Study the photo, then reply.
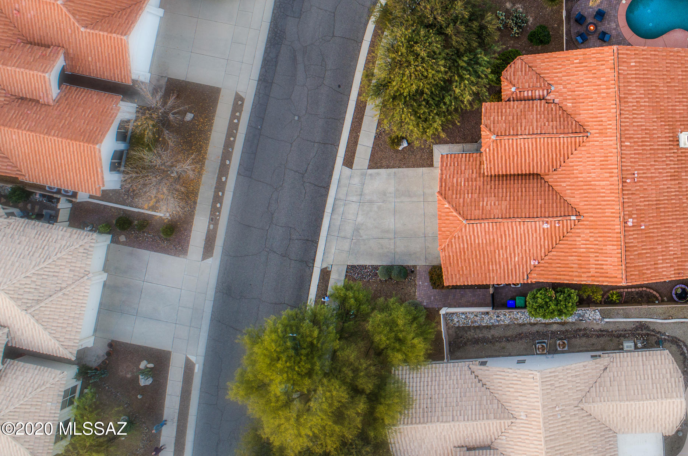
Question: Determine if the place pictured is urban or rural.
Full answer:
The area is urban.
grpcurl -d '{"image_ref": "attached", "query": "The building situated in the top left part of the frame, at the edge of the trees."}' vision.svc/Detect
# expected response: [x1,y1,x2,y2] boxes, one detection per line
[0,0,174,196]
